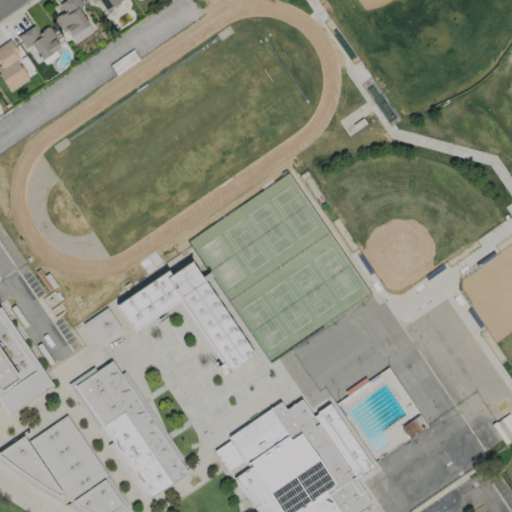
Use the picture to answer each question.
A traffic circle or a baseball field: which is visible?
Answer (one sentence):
There is a baseball field in the scene.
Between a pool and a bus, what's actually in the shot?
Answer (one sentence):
There is a pool in the scene.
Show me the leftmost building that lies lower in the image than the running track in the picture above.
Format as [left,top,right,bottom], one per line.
[0,308,54,415]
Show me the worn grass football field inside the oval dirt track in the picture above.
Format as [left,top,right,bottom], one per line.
[28,19,322,258]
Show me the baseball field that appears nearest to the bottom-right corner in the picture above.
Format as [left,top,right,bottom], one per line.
[461,245,512,367]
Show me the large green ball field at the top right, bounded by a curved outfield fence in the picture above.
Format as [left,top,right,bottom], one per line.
[329,0,512,116]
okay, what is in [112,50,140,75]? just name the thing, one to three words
shed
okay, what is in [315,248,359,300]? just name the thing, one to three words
tennis court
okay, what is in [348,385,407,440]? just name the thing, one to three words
swimming pool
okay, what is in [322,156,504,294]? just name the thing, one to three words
baseball field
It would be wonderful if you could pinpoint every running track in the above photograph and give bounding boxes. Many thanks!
[10,0,340,278]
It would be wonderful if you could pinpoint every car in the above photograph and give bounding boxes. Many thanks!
[18,22,26,31]
[22,16,30,26]
[13,25,20,34]
[13,36,20,45]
